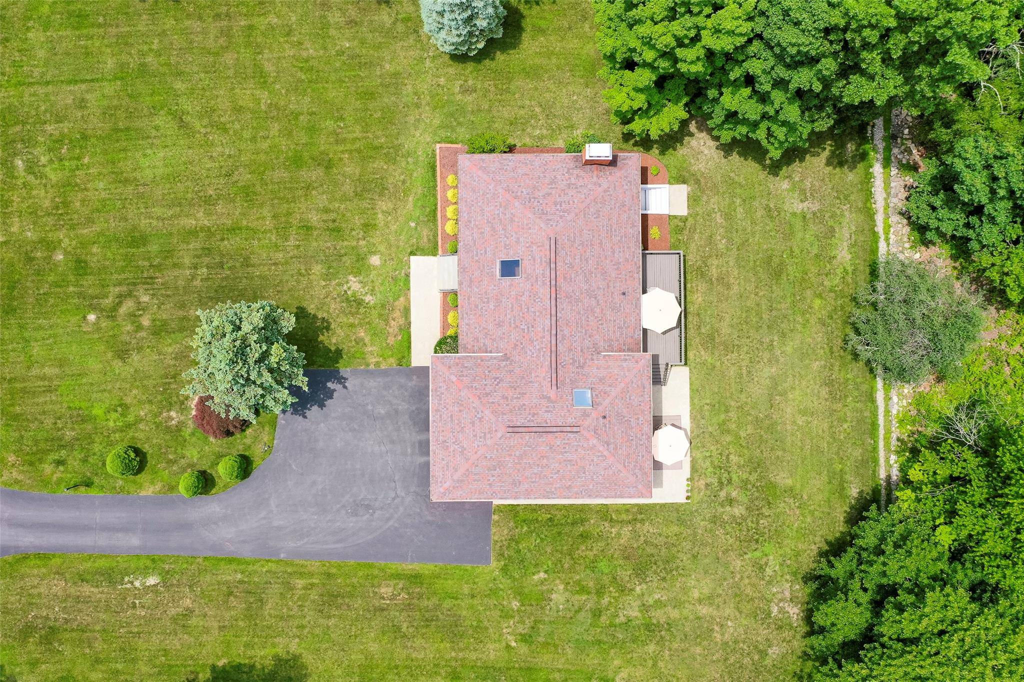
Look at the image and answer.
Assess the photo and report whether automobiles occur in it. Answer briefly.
No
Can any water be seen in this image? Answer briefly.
No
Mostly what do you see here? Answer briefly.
grass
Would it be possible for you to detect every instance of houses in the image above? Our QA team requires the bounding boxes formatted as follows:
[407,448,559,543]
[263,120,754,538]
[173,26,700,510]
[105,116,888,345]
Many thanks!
[429,143,653,502]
